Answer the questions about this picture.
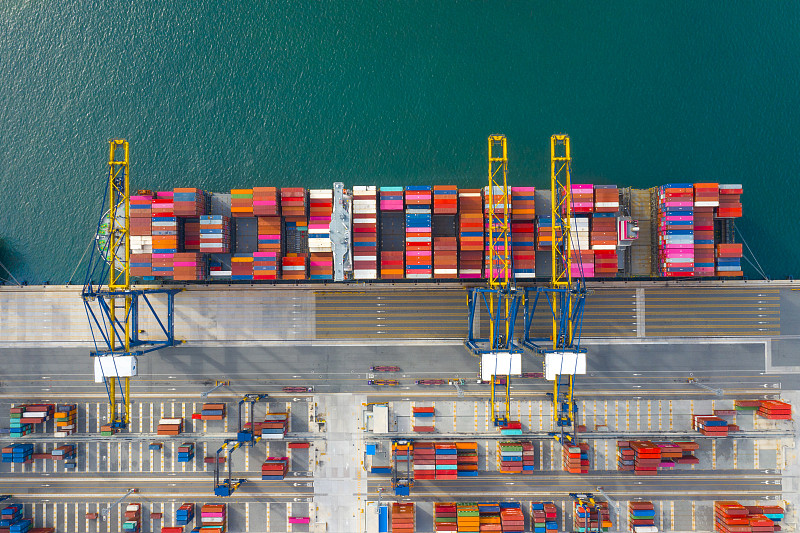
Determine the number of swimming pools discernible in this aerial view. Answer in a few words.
zero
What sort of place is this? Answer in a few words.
port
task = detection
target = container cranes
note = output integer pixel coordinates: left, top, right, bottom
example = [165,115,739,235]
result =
[572,492,603,533]
[514,134,590,427]
[549,393,580,447]
[80,136,184,429]
[460,134,523,427]
[215,438,245,495]
[391,438,414,495]
[238,395,267,449]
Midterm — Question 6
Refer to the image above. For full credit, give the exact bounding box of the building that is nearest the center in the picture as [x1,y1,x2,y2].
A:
[366,404,388,434]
